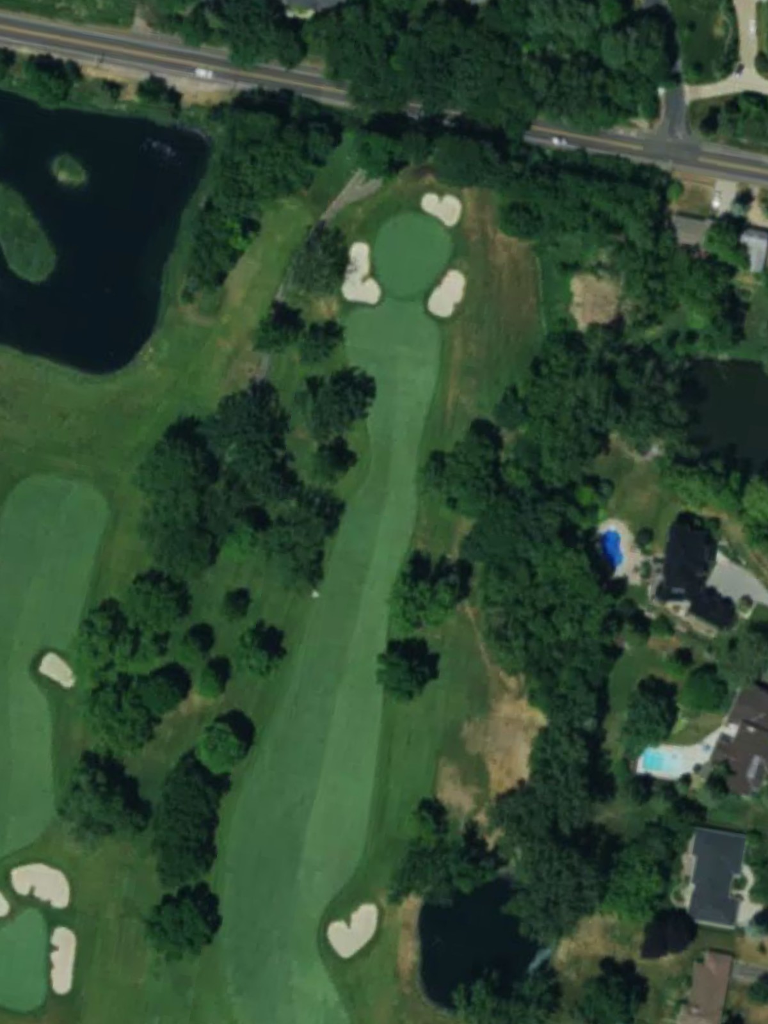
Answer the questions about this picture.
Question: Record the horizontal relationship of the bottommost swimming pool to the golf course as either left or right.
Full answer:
Looking at the picture, you'll find the bottommost swimming pool to the right of the golf course.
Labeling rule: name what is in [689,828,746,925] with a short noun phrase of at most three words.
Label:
house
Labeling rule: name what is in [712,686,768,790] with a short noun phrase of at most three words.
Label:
house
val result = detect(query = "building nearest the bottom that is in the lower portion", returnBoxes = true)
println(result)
[679,951,732,1024]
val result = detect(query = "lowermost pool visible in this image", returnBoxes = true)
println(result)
[642,747,683,773]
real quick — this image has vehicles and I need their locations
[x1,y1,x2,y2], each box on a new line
[748,18,757,34]
[550,137,567,146]
[195,69,213,79]
[311,590,318,599]
[734,61,744,77]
